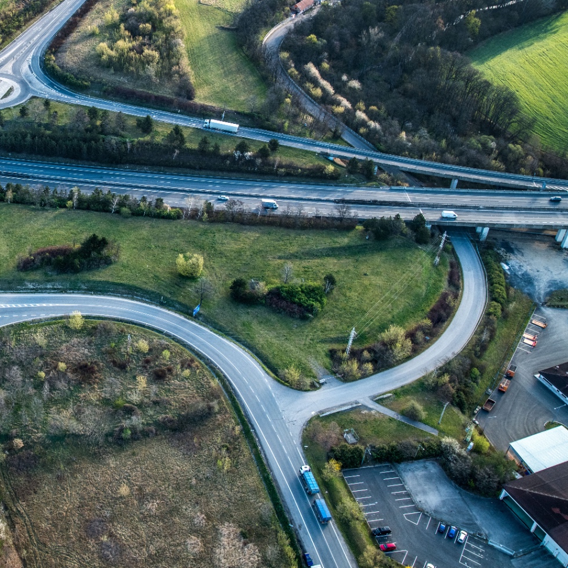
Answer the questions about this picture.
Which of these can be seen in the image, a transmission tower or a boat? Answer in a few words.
transmission tower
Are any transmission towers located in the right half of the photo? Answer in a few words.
Yes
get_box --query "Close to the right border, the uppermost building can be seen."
[524,362,568,414]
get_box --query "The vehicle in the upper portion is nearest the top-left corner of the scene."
[203,118,240,132]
